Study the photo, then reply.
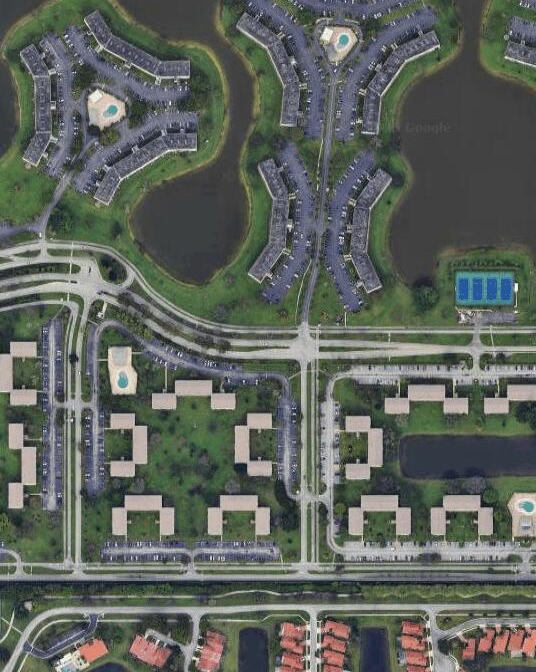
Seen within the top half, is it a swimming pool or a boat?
swimming pool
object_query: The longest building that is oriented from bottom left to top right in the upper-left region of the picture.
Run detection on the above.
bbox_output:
[91,127,198,205]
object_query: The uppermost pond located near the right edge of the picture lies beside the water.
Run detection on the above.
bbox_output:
[399,435,536,477]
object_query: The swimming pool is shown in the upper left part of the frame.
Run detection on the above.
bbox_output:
[88,89,126,130]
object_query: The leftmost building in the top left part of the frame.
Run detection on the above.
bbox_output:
[19,43,58,165]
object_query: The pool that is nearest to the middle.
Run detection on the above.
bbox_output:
[108,348,137,395]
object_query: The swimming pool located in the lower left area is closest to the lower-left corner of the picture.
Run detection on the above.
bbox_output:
[56,652,90,672]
